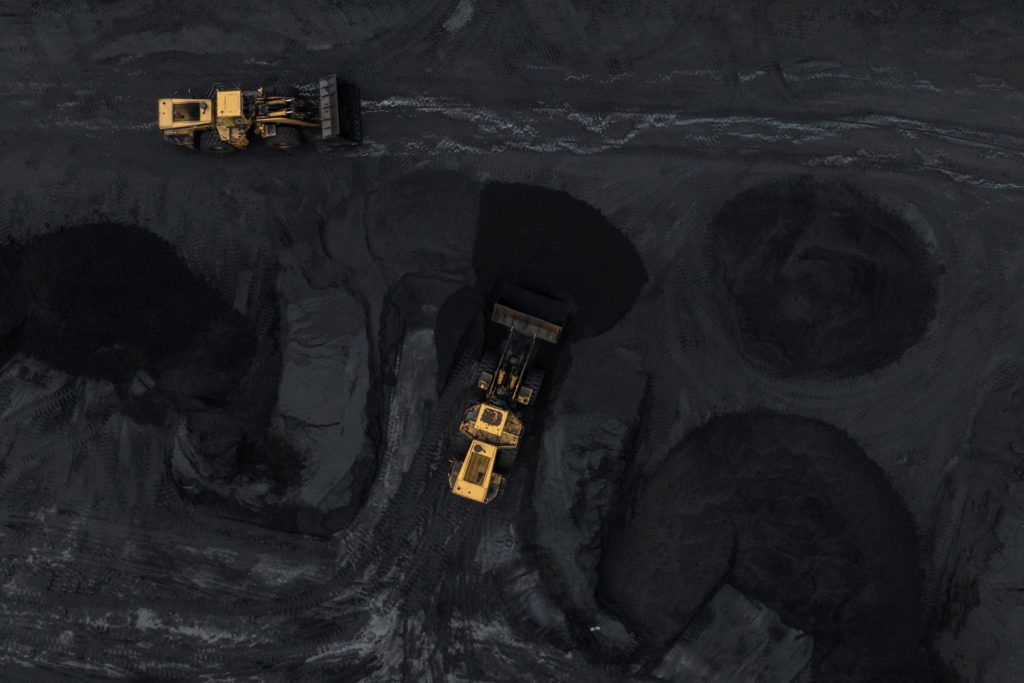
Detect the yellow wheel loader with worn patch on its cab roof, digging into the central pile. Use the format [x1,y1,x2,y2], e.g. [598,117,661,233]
[445,291,563,503]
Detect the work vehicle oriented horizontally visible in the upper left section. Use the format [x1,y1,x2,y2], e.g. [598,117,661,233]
[158,74,364,151]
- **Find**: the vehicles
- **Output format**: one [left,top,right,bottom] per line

[445,291,563,503]
[158,74,364,151]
